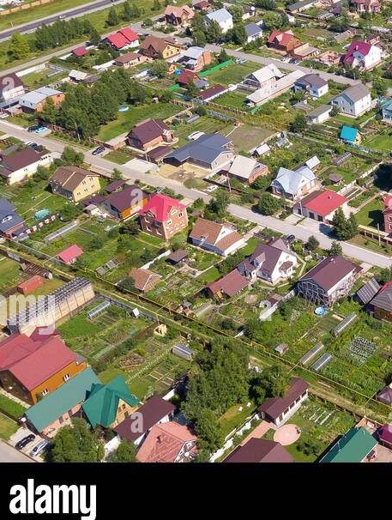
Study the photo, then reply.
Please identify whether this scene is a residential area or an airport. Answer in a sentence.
What you see here is a residential area.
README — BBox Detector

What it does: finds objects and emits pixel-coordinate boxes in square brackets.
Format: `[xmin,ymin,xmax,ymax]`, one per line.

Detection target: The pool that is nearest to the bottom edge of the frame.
[311,307,330,320]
